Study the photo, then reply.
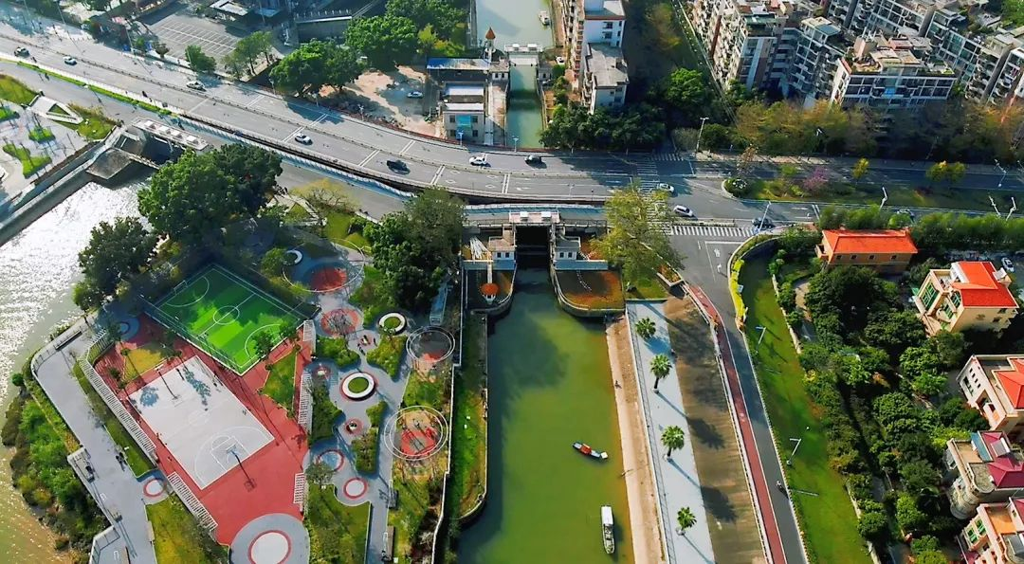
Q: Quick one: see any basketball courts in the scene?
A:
Yes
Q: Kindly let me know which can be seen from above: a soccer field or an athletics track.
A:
soccer field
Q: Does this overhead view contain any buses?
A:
No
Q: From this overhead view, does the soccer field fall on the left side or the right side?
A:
left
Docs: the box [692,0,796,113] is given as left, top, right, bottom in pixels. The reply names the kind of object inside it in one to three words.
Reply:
building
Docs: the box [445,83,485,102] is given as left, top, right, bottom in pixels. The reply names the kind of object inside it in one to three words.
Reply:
shed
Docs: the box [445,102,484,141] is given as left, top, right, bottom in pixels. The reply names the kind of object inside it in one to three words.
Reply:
building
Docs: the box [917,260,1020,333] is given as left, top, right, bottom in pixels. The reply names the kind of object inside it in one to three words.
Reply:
house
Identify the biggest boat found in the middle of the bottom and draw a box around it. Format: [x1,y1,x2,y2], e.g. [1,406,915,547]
[602,501,615,555]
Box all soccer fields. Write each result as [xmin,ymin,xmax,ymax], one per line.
[138,252,306,376]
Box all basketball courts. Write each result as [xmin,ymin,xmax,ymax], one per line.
[126,355,273,489]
